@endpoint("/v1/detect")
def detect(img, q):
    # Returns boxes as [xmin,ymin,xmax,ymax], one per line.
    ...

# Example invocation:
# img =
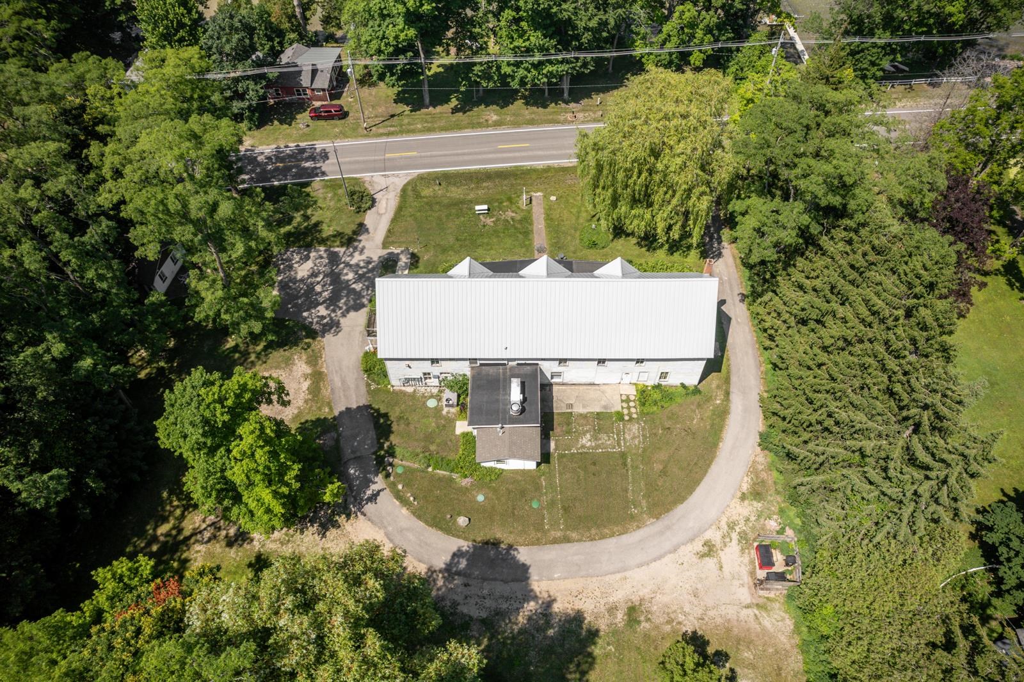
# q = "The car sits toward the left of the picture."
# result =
[308,101,347,120]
